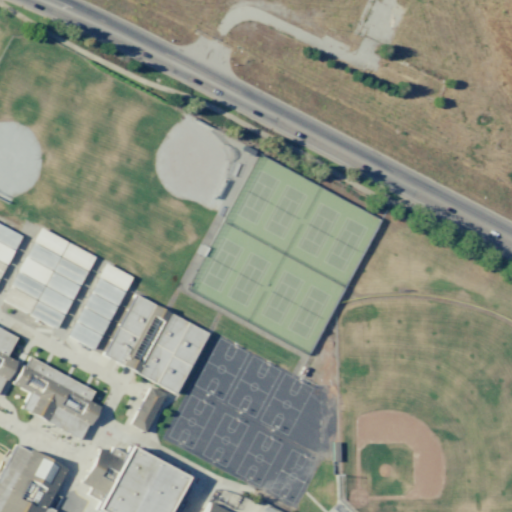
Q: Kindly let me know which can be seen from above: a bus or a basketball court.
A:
basketball court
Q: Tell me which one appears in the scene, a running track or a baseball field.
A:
baseball field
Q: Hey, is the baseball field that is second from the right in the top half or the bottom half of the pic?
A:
top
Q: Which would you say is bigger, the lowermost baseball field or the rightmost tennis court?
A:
the baseball field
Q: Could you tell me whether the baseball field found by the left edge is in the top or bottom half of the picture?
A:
top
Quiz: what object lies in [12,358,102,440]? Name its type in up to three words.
building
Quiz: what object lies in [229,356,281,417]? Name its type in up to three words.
basketball court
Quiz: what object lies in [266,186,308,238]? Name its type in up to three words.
tennis court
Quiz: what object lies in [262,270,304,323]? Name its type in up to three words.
tennis court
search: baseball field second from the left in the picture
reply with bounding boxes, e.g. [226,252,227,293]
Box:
[156,114,240,212]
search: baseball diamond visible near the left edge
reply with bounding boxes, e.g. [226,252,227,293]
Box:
[0,122,42,196]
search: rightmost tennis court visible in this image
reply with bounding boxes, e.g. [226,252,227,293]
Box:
[326,218,368,270]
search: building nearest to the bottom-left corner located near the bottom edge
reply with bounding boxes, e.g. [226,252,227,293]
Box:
[0,445,68,512]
